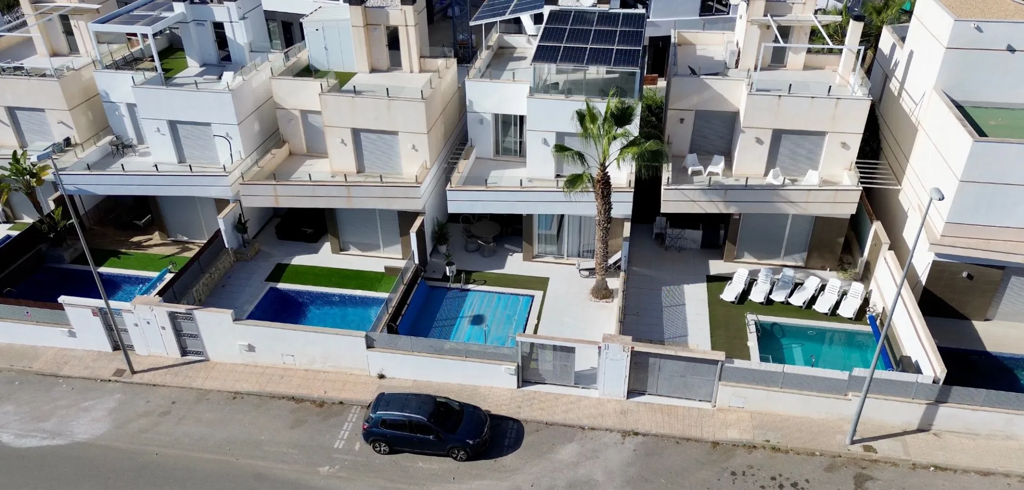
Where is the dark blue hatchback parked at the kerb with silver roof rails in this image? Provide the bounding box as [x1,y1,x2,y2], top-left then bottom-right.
[359,392,490,464]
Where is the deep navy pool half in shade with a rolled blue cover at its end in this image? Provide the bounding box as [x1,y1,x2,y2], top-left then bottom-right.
[17,261,180,304]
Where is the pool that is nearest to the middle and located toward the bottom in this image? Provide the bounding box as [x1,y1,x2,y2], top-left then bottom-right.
[421,277,544,356]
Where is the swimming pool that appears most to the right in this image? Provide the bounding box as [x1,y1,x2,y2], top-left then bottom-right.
[936,341,1024,399]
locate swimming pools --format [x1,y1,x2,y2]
[936,341,1024,399]
[746,311,888,388]
[17,261,180,304]
[421,277,544,356]
[238,280,386,327]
